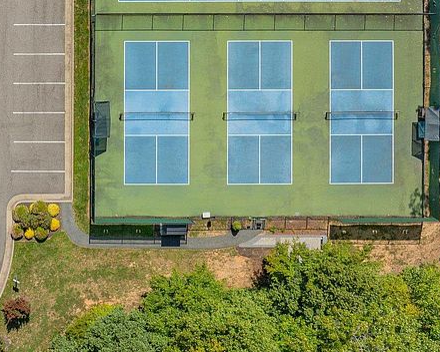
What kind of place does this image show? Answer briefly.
sports ground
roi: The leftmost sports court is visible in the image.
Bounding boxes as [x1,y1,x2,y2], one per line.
[94,16,208,216]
